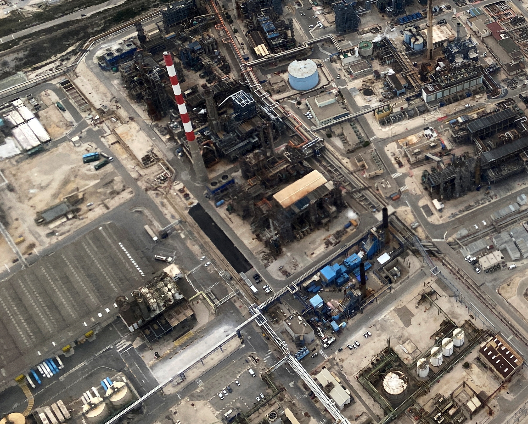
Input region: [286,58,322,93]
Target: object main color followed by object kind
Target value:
white storage tank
